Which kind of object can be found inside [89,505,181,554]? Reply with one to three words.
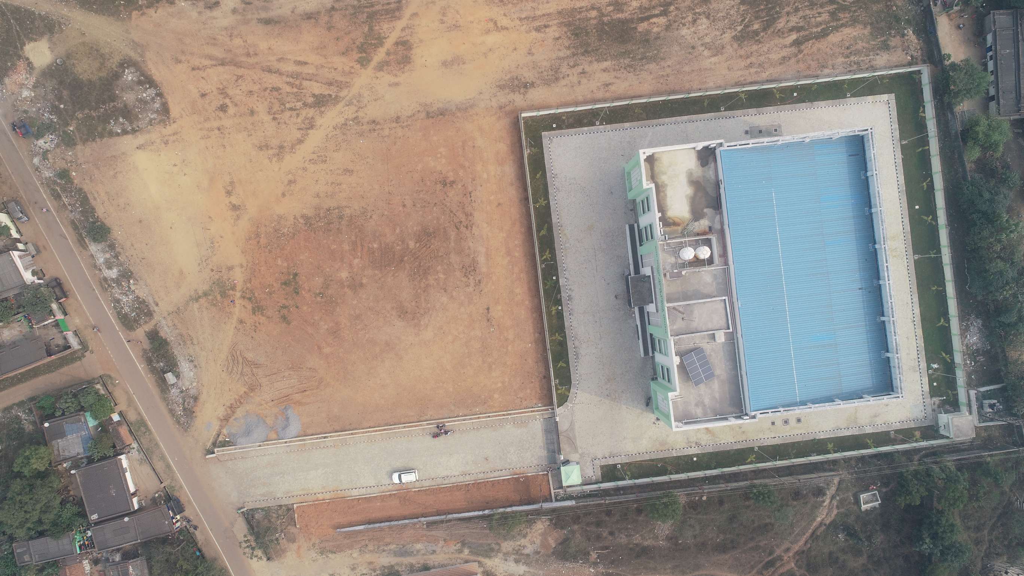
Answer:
house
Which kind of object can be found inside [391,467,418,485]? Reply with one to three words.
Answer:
car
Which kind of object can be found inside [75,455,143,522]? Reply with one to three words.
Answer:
house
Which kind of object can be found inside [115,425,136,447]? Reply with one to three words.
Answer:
shed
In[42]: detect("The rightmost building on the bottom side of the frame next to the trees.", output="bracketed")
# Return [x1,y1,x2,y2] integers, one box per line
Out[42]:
[941,410,975,439]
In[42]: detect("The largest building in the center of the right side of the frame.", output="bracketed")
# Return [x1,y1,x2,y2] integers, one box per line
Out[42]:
[619,125,910,431]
